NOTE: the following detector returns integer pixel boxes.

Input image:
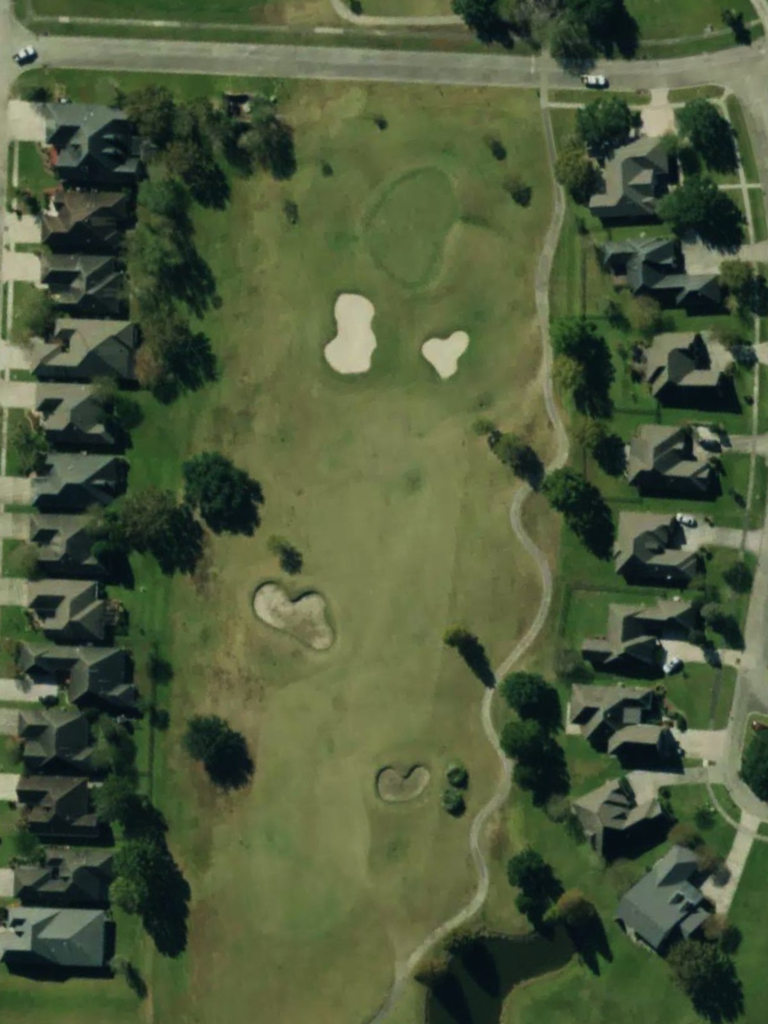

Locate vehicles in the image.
[661,655,681,673]
[582,75,607,85]
[677,511,697,527]
[11,46,36,64]
[698,427,719,443]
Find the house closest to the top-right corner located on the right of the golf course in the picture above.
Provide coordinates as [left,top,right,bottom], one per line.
[589,135,669,219]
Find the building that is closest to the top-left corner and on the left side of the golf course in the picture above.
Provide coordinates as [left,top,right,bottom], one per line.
[45,103,137,185]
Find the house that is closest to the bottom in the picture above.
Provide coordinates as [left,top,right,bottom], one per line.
[0,908,104,974]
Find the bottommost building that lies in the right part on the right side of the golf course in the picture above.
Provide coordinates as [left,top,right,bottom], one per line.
[609,844,721,955]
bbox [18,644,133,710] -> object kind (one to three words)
house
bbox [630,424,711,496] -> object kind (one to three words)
house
